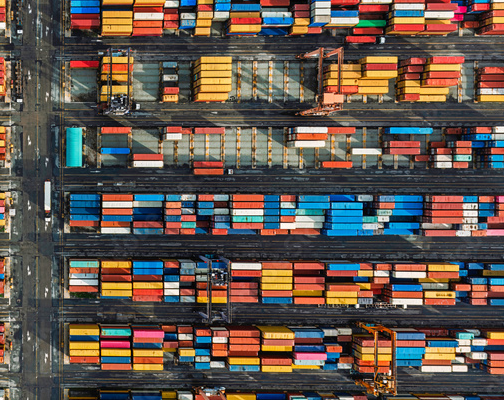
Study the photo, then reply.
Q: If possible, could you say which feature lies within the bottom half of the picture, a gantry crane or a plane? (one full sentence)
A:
The one visible within the bottom half of the picture is a gantry crane.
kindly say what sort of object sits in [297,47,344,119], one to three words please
container crane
